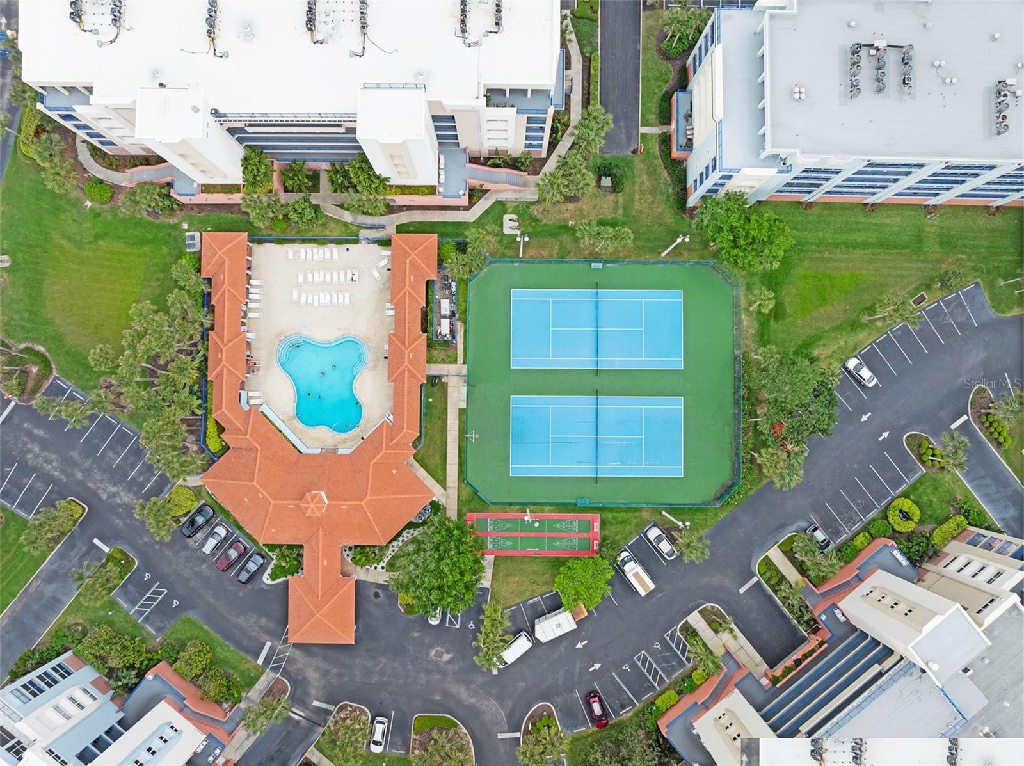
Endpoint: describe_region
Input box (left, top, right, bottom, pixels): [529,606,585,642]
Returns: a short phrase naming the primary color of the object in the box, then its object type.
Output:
white trailer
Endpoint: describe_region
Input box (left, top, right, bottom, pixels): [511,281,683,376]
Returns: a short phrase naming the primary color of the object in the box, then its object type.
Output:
blue tennis court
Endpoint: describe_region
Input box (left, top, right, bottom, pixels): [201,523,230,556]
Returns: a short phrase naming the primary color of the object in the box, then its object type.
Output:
white car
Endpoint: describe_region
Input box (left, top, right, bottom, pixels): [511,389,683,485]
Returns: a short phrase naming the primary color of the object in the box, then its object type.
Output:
blue tennis court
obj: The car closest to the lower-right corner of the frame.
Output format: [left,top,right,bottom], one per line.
[803,520,835,552]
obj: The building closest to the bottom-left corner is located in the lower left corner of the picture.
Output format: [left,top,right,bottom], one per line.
[0,652,253,766]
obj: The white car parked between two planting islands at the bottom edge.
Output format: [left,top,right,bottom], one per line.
[370,716,389,751]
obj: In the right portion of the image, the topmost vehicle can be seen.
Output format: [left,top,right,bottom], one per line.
[843,355,876,389]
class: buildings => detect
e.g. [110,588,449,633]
[17,0,565,205]
[0,652,253,766]
[200,232,438,644]
[670,0,1024,210]
[660,526,1024,766]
